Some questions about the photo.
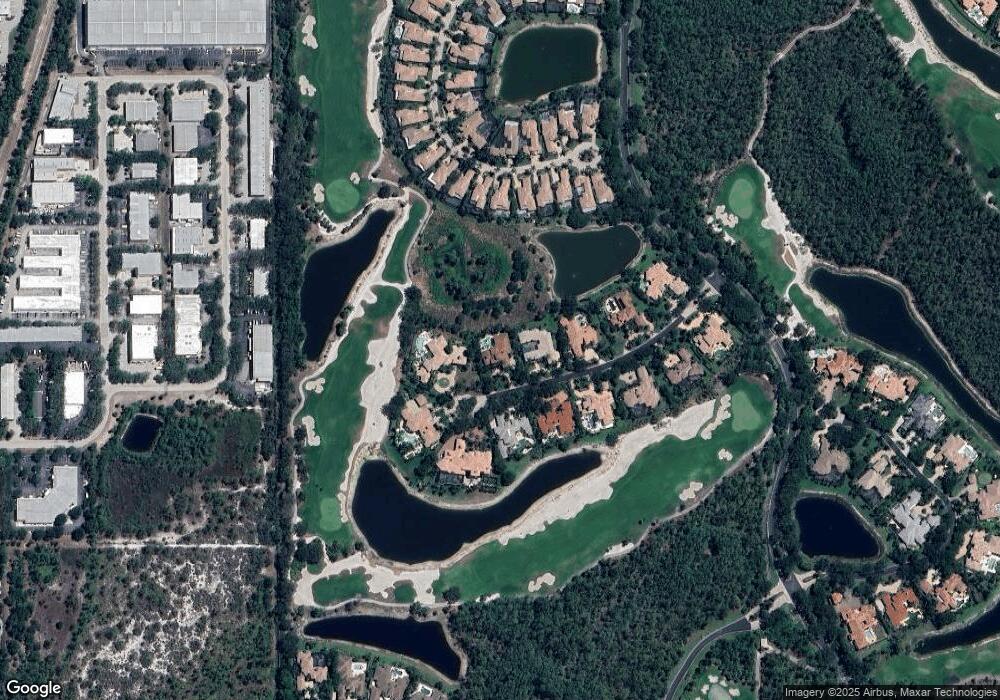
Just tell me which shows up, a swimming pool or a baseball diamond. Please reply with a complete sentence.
It is a swimming pool that can be seen here.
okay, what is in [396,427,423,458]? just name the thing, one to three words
swimming pool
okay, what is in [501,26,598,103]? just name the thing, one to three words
pond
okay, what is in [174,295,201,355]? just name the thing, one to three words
building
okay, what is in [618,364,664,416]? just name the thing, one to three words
house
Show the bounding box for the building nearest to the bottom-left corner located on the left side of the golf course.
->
[17,466,78,525]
